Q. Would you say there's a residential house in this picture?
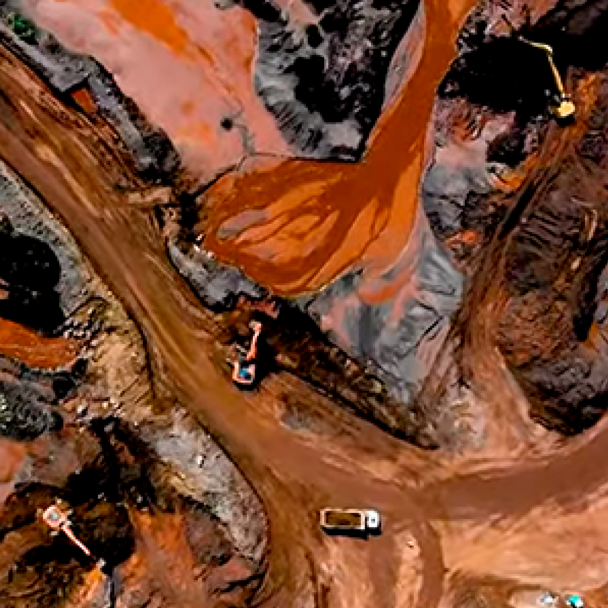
No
